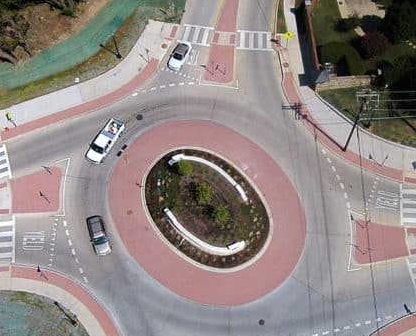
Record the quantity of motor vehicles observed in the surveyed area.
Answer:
3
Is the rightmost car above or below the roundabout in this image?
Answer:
above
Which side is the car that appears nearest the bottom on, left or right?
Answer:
left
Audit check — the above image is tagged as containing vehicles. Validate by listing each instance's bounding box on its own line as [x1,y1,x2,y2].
[86,118,127,165]
[84,213,113,257]
[165,39,193,73]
